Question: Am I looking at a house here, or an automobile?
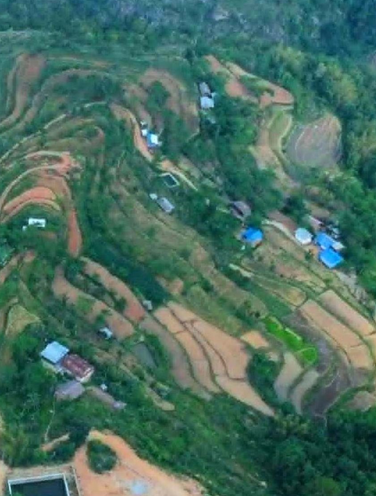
house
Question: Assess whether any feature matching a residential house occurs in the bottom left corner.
Yes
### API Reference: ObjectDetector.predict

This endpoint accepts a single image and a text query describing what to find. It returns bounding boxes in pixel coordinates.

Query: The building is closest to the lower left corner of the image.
[57,382,84,403]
